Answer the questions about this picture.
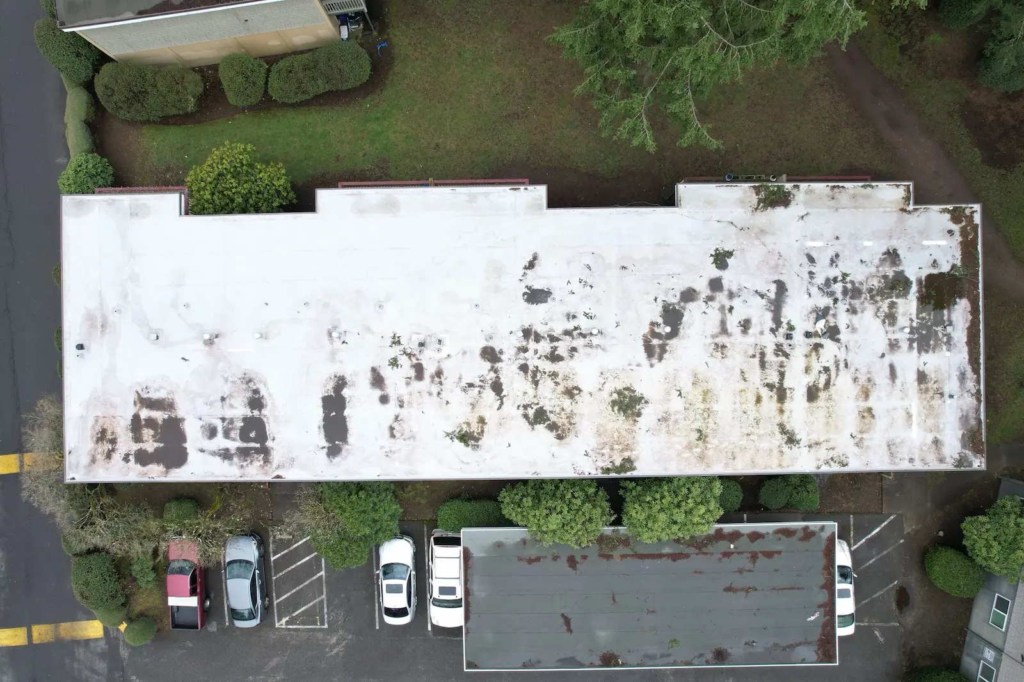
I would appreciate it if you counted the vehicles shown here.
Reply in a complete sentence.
In total, there are 5 vehicles in the scene.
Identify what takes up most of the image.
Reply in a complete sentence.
What you mostly see from above here is buildings.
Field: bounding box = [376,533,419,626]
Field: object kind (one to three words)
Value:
car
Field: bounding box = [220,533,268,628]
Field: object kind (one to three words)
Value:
car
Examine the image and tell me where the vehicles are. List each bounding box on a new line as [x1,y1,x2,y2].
[837,537,861,633]
[376,533,419,626]
[163,533,213,632]
[425,528,464,625]
[220,533,268,628]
